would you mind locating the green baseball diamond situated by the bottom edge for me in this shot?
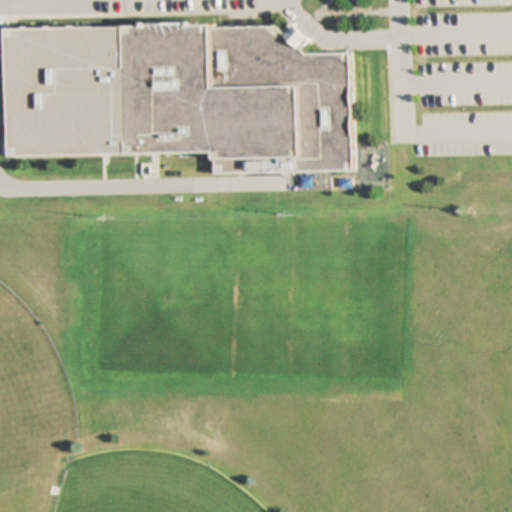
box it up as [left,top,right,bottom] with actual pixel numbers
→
[56,448,268,512]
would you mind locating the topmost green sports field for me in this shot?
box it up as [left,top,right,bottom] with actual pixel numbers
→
[62,214,415,401]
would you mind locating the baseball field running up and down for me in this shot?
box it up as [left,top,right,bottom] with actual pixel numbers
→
[0,284,76,512]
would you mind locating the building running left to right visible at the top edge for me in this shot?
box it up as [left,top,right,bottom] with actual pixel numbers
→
[0,22,358,174]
